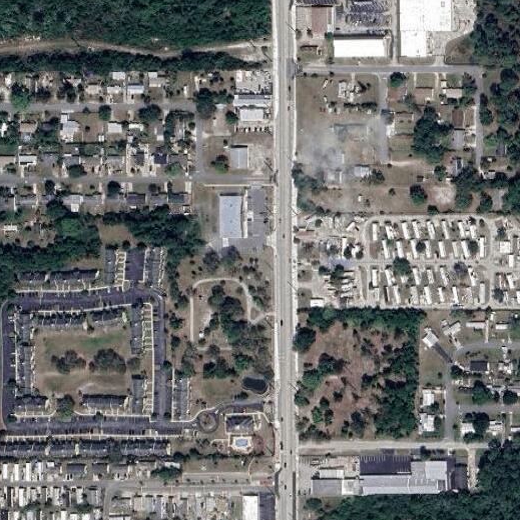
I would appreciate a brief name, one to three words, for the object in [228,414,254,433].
building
